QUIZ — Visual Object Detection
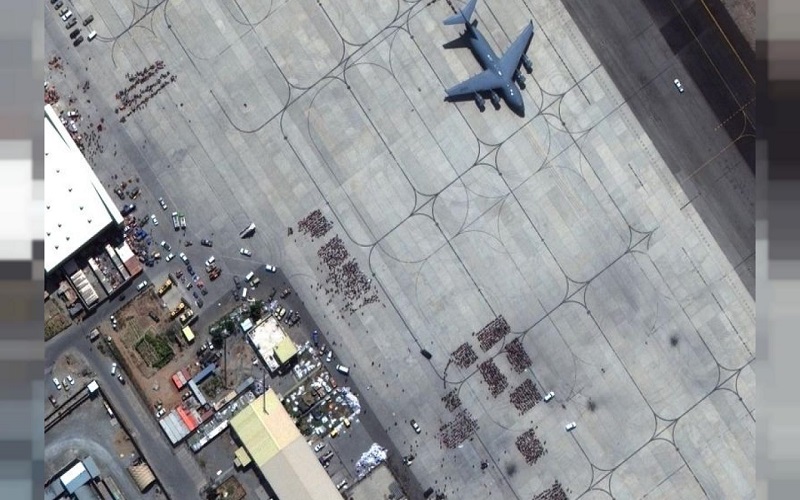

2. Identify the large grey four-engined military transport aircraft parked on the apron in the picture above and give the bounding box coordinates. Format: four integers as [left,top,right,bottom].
[442,0,533,116]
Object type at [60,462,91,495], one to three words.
building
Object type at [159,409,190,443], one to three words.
shed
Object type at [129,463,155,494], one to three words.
shed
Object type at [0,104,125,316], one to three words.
hangar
